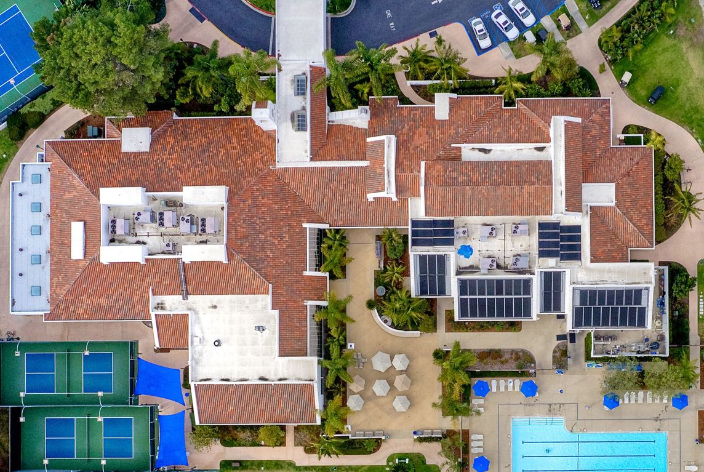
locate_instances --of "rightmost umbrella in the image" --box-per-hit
[672,392,688,410]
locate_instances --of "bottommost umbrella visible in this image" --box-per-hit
[473,456,489,472]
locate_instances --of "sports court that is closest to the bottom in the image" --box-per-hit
[22,407,158,472]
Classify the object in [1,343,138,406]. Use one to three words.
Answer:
sports court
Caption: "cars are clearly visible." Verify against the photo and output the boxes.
[469,17,490,48]
[492,10,518,40]
[510,0,534,26]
